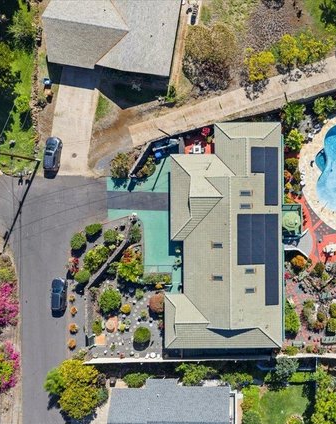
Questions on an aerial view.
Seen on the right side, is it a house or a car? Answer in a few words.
house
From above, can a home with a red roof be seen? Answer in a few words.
No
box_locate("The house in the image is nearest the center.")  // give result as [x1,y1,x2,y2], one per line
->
[164,122,283,358]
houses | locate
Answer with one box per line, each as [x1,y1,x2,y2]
[108,378,245,424]
[164,122,283,358]
[42,0,183,74]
